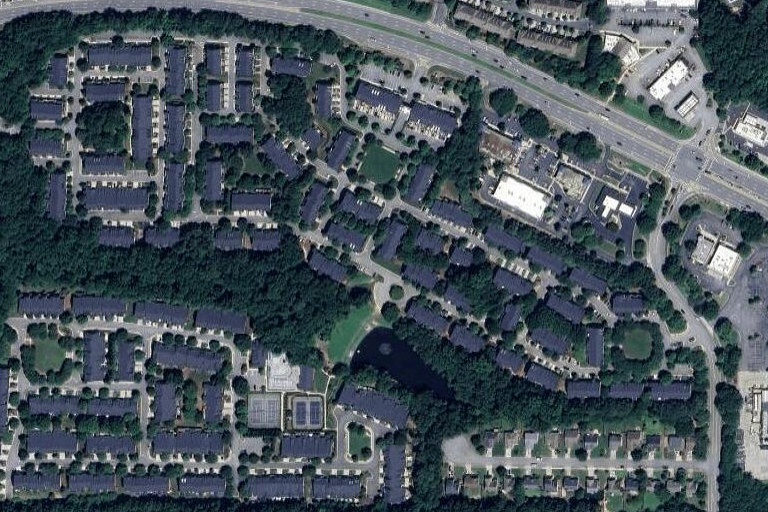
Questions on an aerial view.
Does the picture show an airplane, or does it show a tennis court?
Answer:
tennis court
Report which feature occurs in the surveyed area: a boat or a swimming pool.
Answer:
swimming pool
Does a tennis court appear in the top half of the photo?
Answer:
No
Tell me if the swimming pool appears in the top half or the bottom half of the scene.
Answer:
bottom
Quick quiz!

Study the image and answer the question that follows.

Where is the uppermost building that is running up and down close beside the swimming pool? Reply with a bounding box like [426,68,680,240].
[252,340,265,365]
